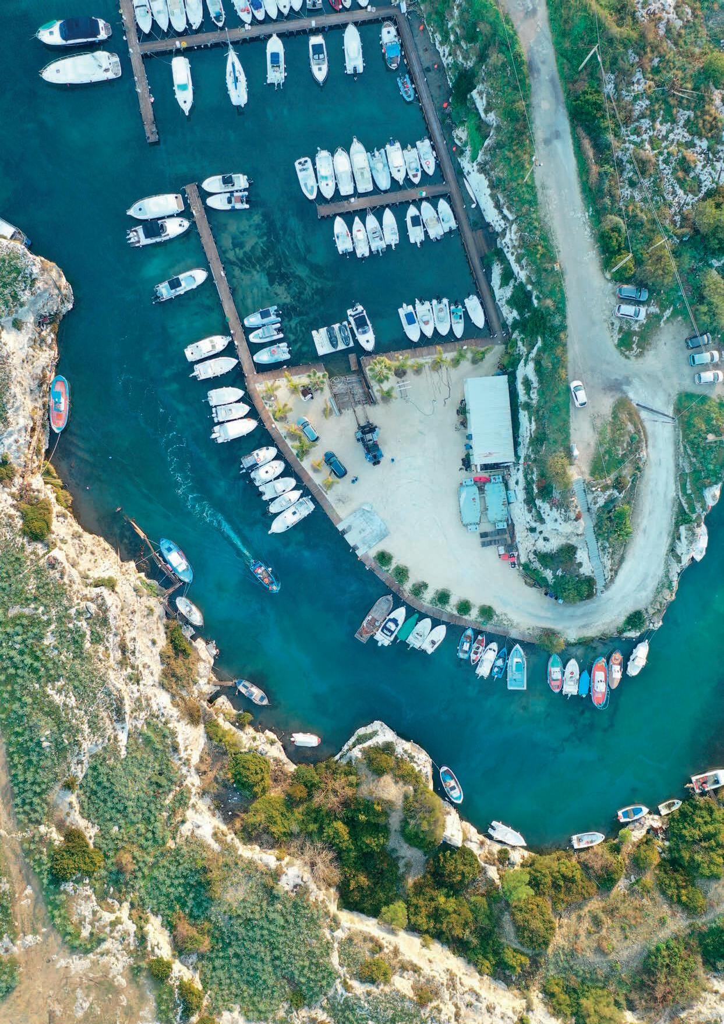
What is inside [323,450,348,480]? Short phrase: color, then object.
blue car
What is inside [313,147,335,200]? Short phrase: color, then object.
white boat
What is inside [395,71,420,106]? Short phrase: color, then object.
blue boat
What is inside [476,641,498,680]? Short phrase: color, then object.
white boat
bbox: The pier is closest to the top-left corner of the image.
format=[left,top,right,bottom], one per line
[120,0,158,143]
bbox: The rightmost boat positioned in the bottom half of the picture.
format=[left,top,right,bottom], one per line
[689,765,724,793]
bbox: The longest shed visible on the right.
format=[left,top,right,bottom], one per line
[464,375,514,472]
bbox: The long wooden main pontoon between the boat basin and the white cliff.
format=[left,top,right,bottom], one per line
[399,10,501,338]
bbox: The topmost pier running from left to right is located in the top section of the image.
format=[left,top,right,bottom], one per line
[141,7,400,56]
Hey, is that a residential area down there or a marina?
marina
